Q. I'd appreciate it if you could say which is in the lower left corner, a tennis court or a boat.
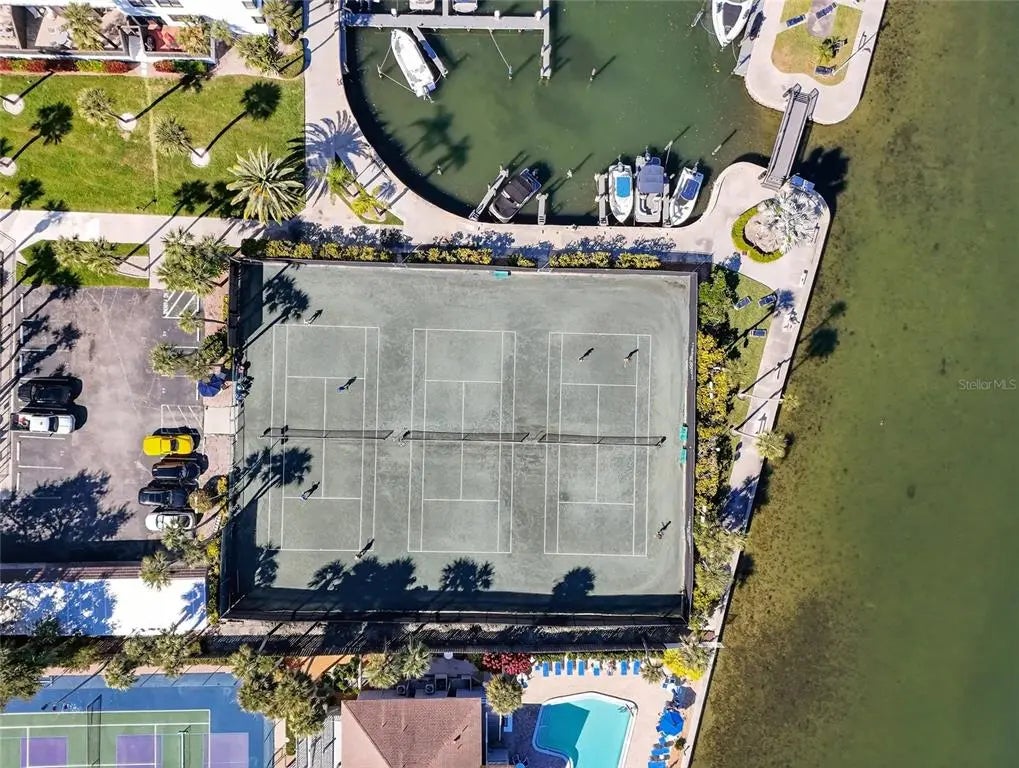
tennis court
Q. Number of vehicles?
6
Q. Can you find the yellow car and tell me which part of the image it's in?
left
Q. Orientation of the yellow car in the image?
from side to side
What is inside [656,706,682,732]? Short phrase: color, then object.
blue umbrella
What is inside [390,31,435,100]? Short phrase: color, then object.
white boat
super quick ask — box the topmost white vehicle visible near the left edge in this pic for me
[11,411,77,433]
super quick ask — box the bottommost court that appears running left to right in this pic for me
[0,672,274,768]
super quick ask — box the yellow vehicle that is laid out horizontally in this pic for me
[143,433,194,457]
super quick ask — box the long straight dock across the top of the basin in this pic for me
[349,5,541,38]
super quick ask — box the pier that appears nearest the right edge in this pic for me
[731,0,759,76]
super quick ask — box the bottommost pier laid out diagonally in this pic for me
[470,164,510,221]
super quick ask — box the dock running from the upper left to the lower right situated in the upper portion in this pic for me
[411,28,449,78]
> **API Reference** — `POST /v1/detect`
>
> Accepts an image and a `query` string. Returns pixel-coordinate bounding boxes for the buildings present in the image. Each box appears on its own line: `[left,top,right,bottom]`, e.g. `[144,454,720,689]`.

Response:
[340,689,483,768]
[0,562,219,637]
[0,0,278,42]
